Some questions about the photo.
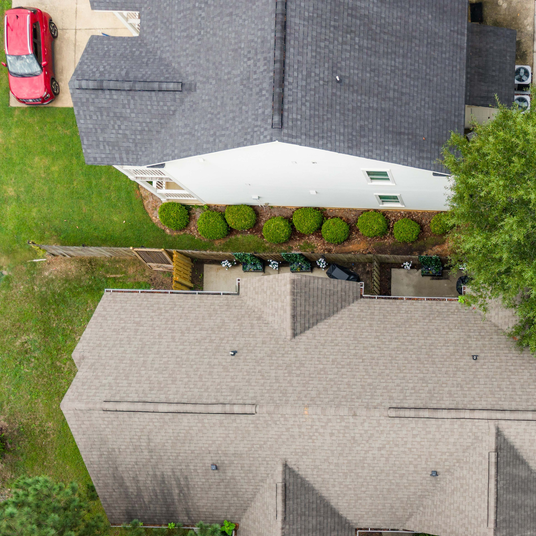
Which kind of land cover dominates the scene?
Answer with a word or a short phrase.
buildings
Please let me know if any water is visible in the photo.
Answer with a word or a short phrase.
No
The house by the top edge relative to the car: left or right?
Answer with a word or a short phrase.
on the right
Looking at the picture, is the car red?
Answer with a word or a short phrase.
Yes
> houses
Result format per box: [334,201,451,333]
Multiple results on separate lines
[68,0,517,210]
[59,274,536,536]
